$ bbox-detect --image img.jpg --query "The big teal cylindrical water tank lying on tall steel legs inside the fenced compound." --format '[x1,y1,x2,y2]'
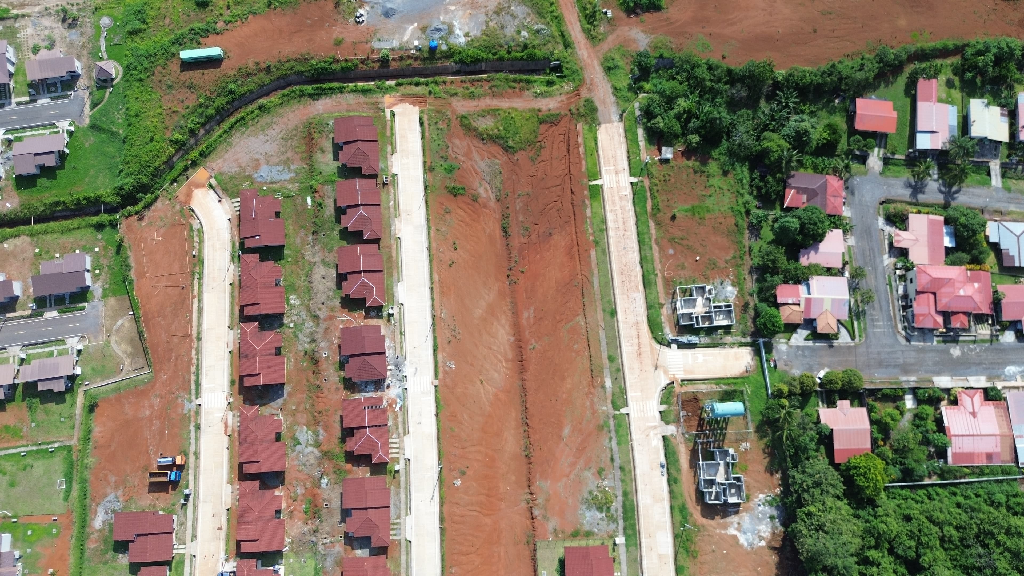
[691,401,748,418]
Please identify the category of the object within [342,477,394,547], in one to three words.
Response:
house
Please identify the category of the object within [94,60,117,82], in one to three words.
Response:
gazebo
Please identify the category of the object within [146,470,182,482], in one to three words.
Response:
vehicle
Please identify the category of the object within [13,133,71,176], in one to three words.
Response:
house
